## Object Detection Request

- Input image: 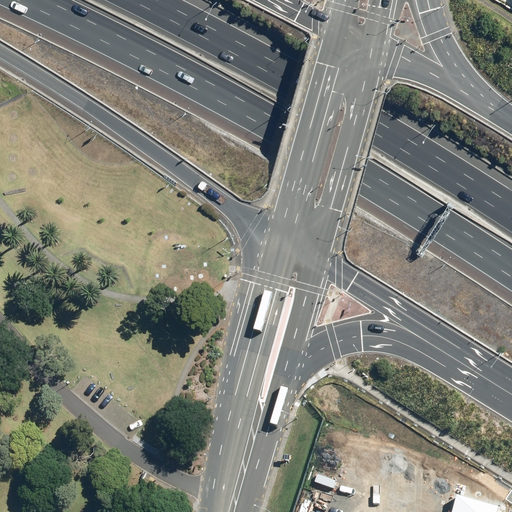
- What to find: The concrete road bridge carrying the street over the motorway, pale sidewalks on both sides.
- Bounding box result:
[265,35,394,252]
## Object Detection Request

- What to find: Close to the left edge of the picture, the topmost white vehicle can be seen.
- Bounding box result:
[10,2,28,14]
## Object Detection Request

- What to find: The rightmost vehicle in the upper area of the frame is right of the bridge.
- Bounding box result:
[458,191,473,203]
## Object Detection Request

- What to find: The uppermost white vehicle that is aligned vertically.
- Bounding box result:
[254,290,273,332]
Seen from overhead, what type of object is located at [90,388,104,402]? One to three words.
vehicle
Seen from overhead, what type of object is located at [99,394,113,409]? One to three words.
car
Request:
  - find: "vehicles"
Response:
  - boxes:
[200,184,222,202]
[372,484,380,505]
[10,2,28,14]
[339,485,355,495]
[310,10,326,20]
[128,420,143,430]
[254,290,273,332]
[458,191,473,203]
[269,386,288,428]
[90,388,104,402]
[328,507,344,512]
[191,23,206,34]
[99,394,113,409]
[218,52,234,62]
[178,72,194,84]
[368,324,384,332]
[139,66,152,76]
[83,382,96,396]
[72,5,88,16]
